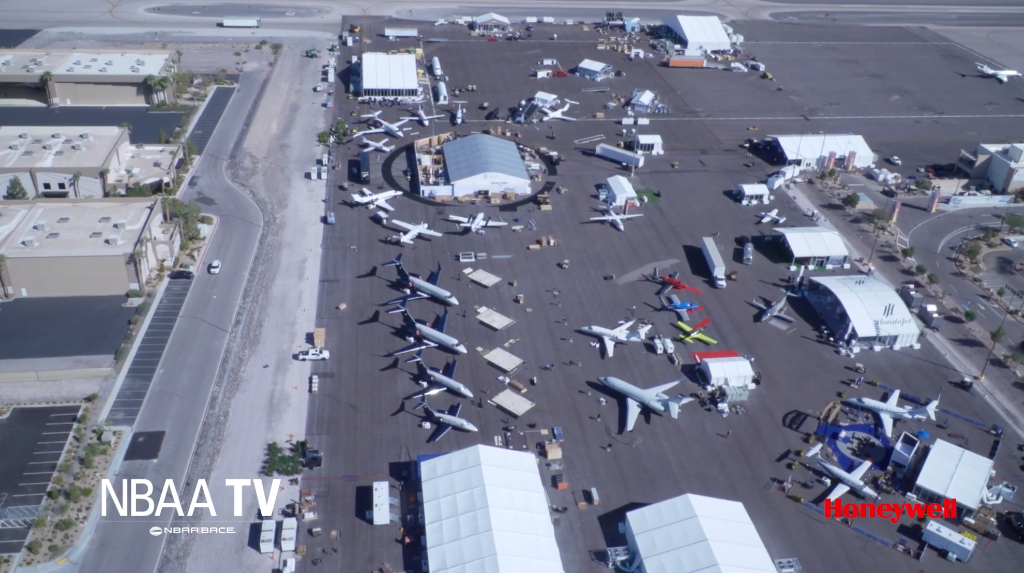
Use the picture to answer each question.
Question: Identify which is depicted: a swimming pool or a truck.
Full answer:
It is a truck that can be seen here.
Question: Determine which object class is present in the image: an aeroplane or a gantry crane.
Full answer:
The one in the frame is an aeroplane.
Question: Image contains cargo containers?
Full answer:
Yes, you can see a cargo container in this photo.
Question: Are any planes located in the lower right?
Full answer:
Yes, a plane is visible in the lower right.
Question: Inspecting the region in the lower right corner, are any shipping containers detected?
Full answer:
Yes, a shipping container shows up in the lower right corner.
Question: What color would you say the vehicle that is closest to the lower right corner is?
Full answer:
The vehicle that is closest to the lower right corner looks black in the image.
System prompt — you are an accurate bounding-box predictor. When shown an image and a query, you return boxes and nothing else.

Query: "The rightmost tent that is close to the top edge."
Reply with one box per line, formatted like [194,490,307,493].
[660,15,730,51]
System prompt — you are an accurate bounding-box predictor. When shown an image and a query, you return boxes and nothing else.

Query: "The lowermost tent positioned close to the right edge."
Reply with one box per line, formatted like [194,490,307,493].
[905,439,996,528]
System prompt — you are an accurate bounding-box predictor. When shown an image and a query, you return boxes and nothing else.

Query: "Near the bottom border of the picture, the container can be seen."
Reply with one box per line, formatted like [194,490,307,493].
[923,518,977,561]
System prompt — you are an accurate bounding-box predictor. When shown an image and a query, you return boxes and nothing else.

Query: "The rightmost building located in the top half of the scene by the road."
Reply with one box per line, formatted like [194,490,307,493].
[921,140,1024,197]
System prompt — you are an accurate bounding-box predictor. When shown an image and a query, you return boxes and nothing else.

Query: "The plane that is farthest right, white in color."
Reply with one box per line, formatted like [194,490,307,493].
[974,60,1024,81]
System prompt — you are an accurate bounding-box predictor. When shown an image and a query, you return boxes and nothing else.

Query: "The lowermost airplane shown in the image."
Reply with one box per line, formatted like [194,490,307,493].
[800,435,883,502]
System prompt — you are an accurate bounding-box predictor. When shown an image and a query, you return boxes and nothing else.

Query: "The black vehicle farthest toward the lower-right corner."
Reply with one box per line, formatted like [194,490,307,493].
[1001,507,1024,531]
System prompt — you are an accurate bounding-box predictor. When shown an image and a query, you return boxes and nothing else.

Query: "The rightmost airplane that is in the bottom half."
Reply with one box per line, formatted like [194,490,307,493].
[844,392,952,439]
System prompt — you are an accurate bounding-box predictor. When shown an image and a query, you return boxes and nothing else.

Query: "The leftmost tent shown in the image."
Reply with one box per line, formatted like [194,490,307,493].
[362,54,418,97]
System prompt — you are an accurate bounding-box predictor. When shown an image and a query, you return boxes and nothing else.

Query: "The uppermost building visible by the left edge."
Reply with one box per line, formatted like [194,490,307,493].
[0,48,184,106]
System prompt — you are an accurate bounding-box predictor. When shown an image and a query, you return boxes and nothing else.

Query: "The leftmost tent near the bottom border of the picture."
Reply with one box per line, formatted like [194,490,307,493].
[416,443,569,573]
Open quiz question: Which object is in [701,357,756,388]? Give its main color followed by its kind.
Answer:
white tent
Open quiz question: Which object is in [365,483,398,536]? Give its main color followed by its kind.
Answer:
white trailer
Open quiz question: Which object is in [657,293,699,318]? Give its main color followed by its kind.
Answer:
blue airplane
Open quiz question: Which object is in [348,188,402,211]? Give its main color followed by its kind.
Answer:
white airplane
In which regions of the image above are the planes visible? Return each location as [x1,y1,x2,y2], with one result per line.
[597,379,709,437]
[677,319,719,342]
[542,96,580,121]
[376,296,466,355]
[578,318,659,360]
[449,214,508,233]
[372,252,458,306]
[348,108,407,139]
[440,98,478,126]
[657,293,699,318]
[399,97,445,127]
[974,60,1024,81]
[357,132,388,154]
[398,346,473,400]
[753,284,804,323]
[590,197,643,232]
[393,219,445,242]
[410,389,477,437]
[759,198,799,218]
[435,18,453,26]
[800,435,883,502]
[844,392,952,439]
[348,188,402,211]
[650,267,691,294]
